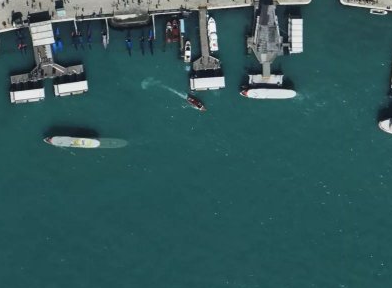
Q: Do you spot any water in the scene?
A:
Yes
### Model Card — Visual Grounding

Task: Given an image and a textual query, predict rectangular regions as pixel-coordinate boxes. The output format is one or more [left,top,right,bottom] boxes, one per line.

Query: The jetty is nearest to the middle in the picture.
[190,77,225,91]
